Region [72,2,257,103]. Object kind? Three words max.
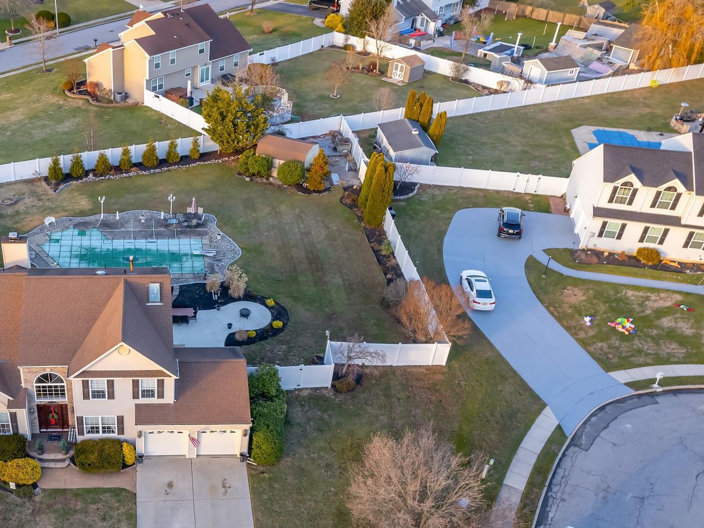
house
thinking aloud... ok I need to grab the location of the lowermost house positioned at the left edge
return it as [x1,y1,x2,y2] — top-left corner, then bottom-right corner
[0,230,254,464]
